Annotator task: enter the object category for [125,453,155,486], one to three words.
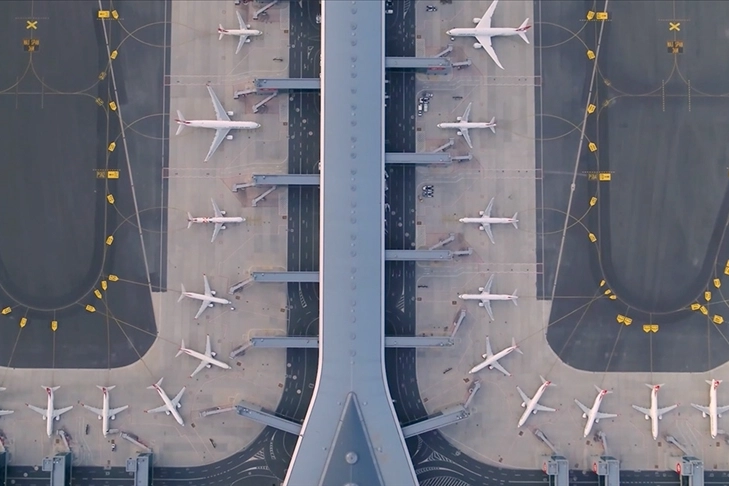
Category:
building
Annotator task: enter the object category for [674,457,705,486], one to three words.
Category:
building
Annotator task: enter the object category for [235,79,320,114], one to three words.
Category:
jet bridge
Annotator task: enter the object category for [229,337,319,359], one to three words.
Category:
jet bridge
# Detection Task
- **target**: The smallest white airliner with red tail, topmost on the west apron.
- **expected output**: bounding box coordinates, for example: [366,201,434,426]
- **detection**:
[217,11,263,53]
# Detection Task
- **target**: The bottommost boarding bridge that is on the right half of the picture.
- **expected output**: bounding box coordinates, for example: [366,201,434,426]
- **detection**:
[402,381,479,438]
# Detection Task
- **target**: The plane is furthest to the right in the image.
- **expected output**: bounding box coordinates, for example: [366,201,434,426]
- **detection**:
[691,379,729,439]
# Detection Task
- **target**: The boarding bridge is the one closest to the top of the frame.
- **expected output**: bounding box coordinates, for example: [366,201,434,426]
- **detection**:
[235,0,321,23]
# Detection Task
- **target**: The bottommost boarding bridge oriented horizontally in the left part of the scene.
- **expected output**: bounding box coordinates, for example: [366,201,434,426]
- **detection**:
[200,399,301,434]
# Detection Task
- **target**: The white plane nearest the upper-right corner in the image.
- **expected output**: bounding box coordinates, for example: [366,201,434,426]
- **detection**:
[446,0,532,68]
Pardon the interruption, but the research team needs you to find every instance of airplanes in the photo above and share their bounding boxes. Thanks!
[458,198,519,243]
[147,379,186,425]
[633,387,679,440]
[446,0,532,68]
[82,386,128,436]
[575,387,618,437]
[517,377,556,427]
[173,84,261,161]
[691,379,729,439]
[187,197,246,243]
[458,274,519,320]
[217,11,263,53]
[26,386,73,438]
[182,275,232,319]
[437,102,497,148]
[468,337,520,378]
[177,335,231,379]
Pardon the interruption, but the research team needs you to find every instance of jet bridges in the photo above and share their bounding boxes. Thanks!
[402,381,479,438]
[385,137,473,166]
[229,272,320,295]
[385,44,473,75]
[234,174,320,208]
[385,312,466,347]
[235,0,321,23]
[235,79,320,114]
[385,233,473,260]
[229,337,319,359]
[200,399,301,434]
